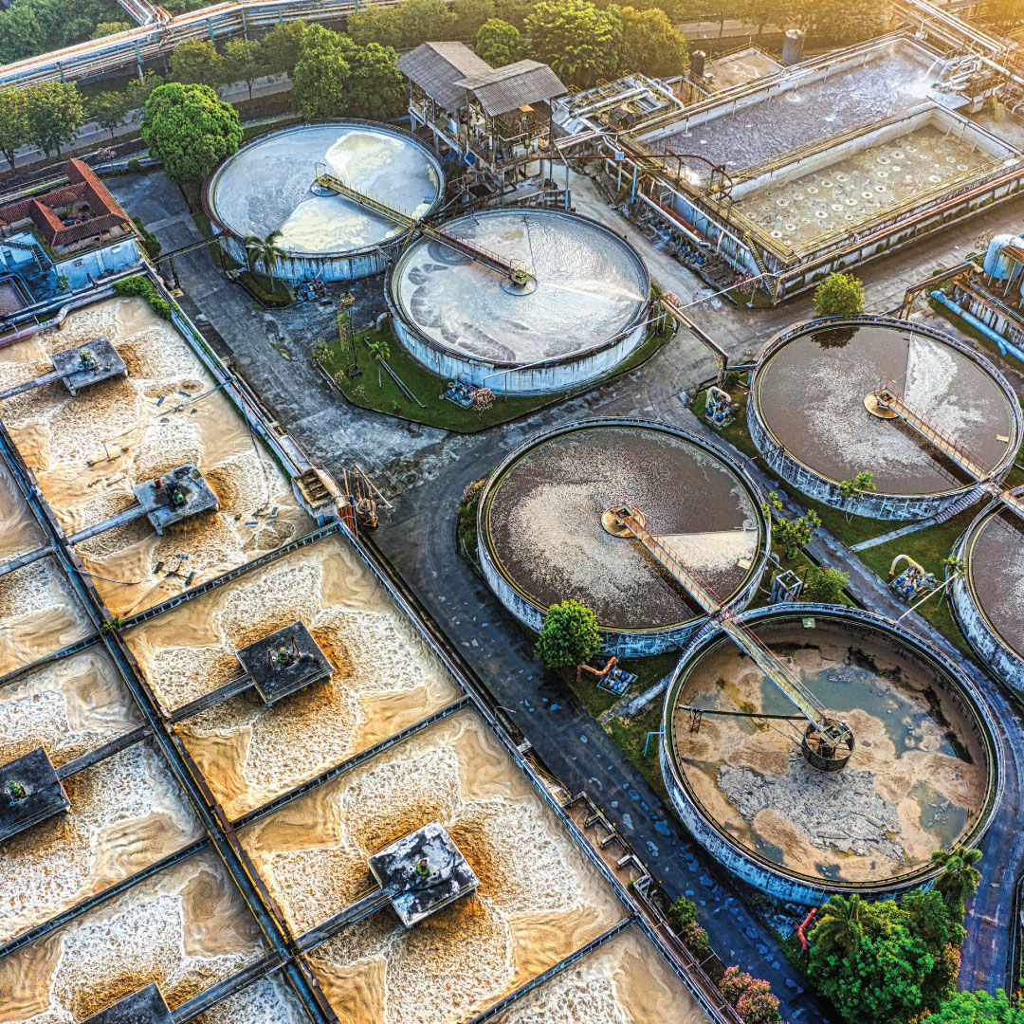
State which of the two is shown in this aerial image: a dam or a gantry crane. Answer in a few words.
dam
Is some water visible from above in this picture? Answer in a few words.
Yes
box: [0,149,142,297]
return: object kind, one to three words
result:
house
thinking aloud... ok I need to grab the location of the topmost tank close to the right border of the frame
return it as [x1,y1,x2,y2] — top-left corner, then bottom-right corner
[981,239,1024,301]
